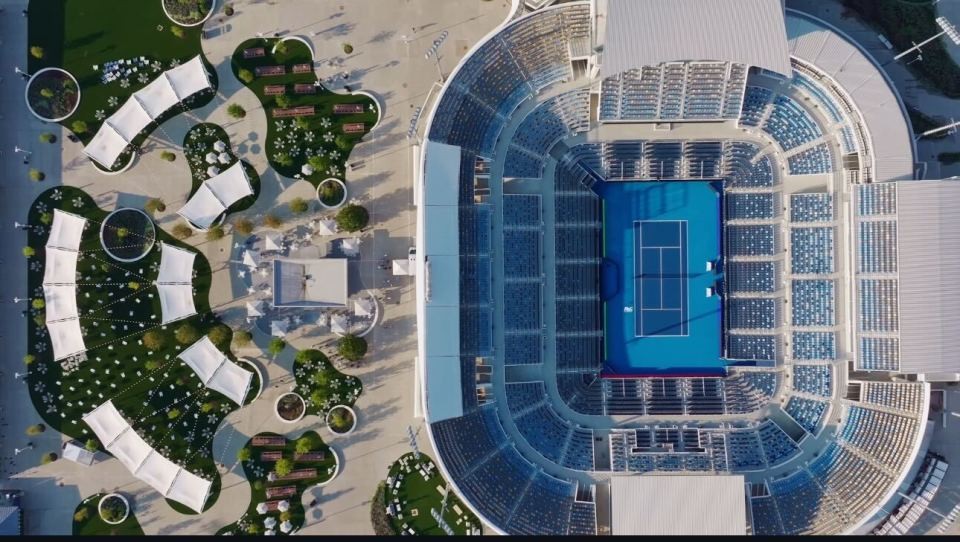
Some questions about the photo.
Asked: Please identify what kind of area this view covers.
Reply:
sports ground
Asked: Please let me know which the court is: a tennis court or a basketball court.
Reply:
tennis court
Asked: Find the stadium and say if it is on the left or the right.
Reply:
right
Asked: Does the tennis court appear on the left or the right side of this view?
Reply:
right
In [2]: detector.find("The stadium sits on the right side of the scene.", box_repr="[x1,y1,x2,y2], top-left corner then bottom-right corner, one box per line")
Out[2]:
[412,0,960,542]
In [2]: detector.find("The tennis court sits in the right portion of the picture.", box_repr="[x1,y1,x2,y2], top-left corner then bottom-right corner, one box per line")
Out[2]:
[598,178,730,381]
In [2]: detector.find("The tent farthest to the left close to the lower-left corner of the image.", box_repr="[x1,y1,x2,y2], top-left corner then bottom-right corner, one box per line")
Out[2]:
[63,440,102,466]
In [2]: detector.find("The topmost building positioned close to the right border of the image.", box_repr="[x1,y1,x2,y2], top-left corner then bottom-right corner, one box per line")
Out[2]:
[927,388,945,412]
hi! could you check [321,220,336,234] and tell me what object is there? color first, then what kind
white umbrella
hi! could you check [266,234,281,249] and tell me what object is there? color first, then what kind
white umbrella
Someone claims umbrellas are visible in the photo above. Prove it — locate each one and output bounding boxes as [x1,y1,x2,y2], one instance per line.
[218,152,232,165]
[244,249,262,267]
[205,152,218,165]
[273,322,288,336]
[342,237,358,253]
[332,316,347,331]
[321,220,336,234]
[301,164,313,176]
[207,166,220,178]
[278,499,290,511]
[268,471,278,481]
[213,140,227,152]
[266,234,281,249]
[248,300,263,316]
[280,520,292,533]
[264,516,277,529]
[357,300,371,314]
[256,502,269,514]
[264,527,277,537]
